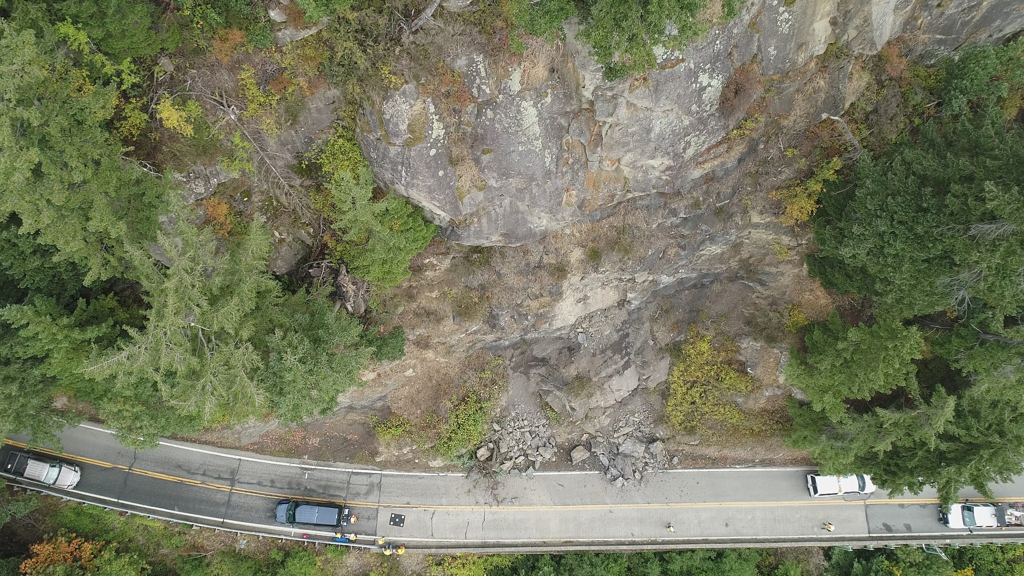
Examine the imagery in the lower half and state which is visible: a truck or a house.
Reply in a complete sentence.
Visible in the lower half is a truck.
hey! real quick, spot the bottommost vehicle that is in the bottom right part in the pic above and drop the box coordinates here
[937,501,1024,536]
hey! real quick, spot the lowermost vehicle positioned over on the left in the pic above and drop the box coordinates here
[275,497,352,529]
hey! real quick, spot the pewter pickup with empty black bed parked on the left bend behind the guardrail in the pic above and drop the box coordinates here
[1,448,85,489]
